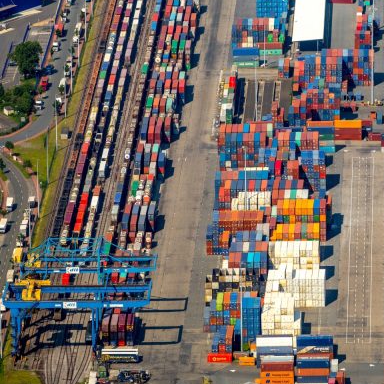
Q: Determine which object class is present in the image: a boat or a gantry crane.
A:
gantry crane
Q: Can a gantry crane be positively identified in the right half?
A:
No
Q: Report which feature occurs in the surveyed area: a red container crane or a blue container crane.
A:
blue container crane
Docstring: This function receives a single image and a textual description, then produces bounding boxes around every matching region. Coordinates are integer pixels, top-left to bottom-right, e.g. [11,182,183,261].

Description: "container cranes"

[2,274,155,366]
[20,234,161,331]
